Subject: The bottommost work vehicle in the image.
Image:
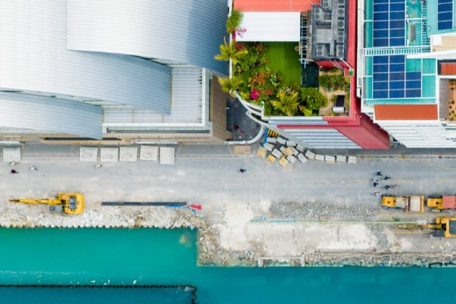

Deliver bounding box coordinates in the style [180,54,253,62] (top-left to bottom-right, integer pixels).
[398,214,456,237]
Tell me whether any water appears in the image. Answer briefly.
Yes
